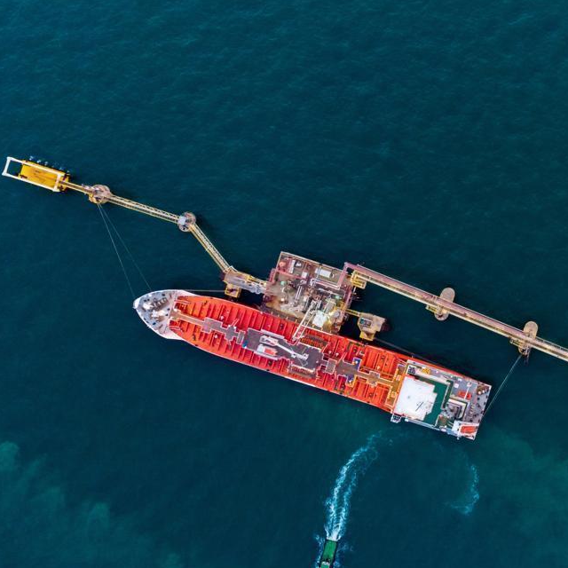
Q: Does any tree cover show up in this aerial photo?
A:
No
